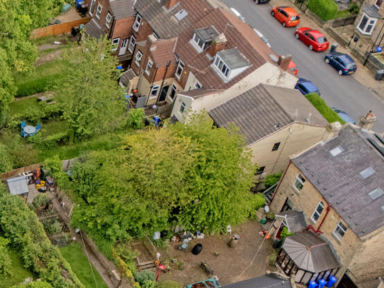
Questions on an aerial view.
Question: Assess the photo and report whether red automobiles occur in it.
Yes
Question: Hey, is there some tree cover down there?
Yes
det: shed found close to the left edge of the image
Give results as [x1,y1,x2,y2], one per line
[7,177,28,200]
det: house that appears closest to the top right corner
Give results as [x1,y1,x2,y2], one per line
[351,0,384,56]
